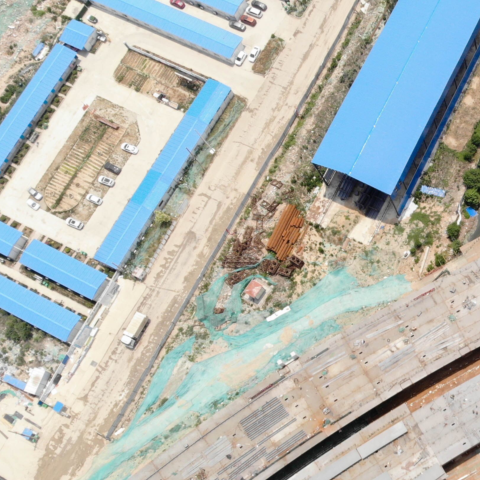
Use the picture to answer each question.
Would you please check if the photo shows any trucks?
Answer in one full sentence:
Yes, a truck can be made out from above.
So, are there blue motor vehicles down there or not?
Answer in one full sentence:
No, the frame has no blue motor vehicle in it.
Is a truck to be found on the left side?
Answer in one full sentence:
Yes, I can see a truck on the left side.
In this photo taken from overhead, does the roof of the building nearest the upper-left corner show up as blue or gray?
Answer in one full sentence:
The roof of the building nearest the upper-left corner looks blue in the image.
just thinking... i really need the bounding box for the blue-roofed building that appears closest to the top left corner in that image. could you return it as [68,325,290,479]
[60,20,98,54]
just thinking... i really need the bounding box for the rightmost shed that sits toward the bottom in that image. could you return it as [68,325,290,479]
[241,277,273,307]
